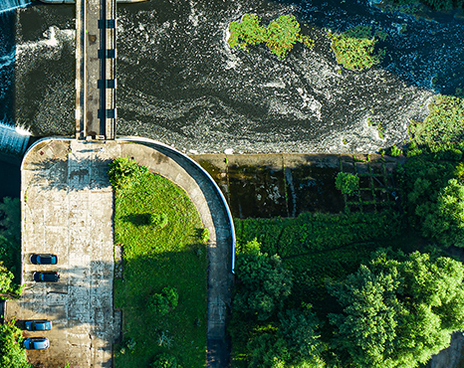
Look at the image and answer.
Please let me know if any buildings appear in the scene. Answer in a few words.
No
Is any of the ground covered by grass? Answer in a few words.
Yes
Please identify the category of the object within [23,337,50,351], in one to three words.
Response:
vehicle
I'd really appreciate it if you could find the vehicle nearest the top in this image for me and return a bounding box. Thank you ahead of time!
[31,253,57,266]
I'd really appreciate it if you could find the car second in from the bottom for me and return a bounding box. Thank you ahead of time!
[25,319,52,332]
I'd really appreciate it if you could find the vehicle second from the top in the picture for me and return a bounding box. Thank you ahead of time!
[33,270,60,283]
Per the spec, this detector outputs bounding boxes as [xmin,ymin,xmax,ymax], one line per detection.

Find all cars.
[33,270,60,283]
[23,337,50,351]
[25,319,52,332]
[31,253,57,266]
